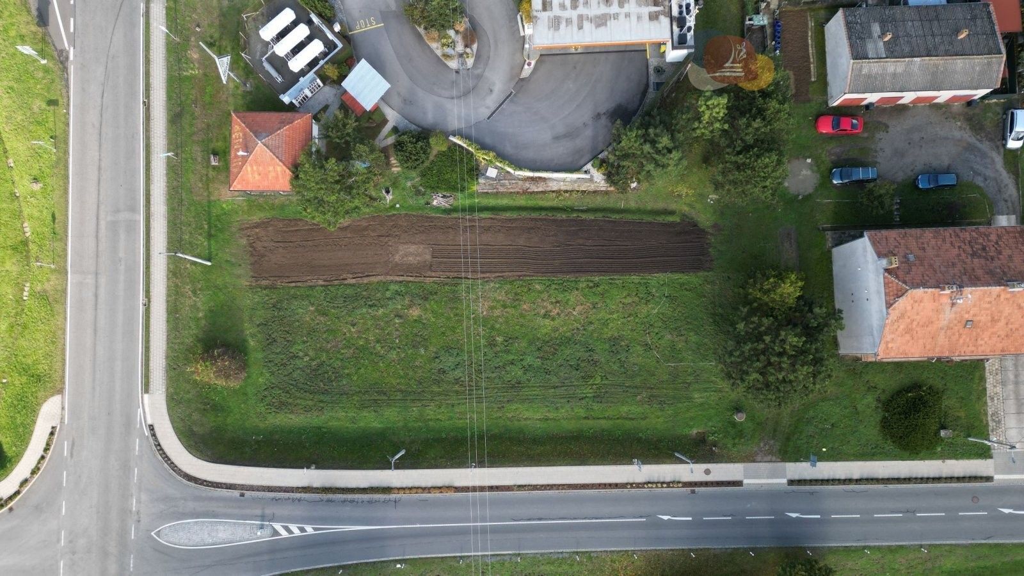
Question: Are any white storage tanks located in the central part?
No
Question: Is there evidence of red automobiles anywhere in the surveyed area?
Yes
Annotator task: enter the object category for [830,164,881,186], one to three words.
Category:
car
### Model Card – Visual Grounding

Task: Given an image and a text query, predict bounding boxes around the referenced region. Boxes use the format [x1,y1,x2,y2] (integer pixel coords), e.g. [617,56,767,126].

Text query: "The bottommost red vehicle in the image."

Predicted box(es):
[815,111,865,135]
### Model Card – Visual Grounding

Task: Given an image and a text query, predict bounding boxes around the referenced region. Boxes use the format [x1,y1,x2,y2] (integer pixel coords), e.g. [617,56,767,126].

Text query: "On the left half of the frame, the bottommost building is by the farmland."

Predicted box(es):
[229,111,316,194]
